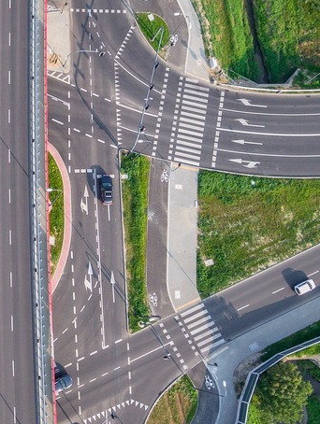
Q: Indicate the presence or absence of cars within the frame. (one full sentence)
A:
Yes, a car can be made out from above.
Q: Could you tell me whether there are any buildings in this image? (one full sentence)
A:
No, there's no building here.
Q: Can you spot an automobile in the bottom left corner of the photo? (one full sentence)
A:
Yes, there is an automobile in the bottom left corner of the photo.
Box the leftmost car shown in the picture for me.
[53,372,75,392]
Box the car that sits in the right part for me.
[294,278,320,296]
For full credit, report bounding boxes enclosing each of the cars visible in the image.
[53,372,75,392]
[100,174,114,204]
[294,278,320,296]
